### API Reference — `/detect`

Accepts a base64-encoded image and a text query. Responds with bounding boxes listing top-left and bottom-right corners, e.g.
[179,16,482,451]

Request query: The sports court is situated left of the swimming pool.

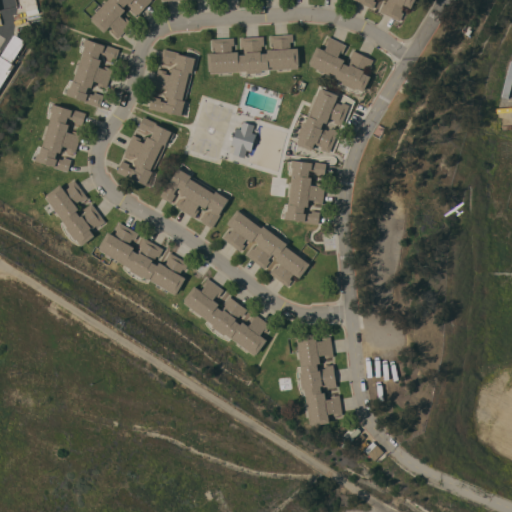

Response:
[192,100,232,158]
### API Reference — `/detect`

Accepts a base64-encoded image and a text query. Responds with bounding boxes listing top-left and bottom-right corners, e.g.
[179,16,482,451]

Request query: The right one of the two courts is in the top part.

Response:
[250,118,286,171]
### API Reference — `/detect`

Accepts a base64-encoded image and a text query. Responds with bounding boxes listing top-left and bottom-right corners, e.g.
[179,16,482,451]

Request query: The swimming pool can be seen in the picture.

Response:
[238,83,283,120]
